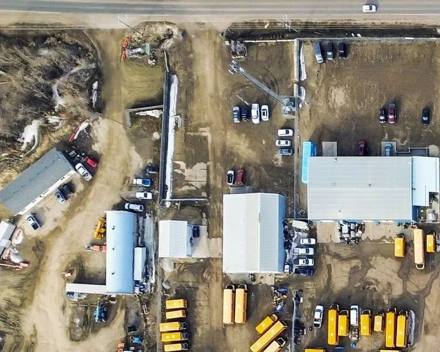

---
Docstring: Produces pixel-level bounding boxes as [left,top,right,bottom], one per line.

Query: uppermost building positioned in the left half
[0,147,80,217]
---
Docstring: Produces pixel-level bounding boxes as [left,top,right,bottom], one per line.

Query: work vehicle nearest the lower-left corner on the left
[94,303,109,321]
